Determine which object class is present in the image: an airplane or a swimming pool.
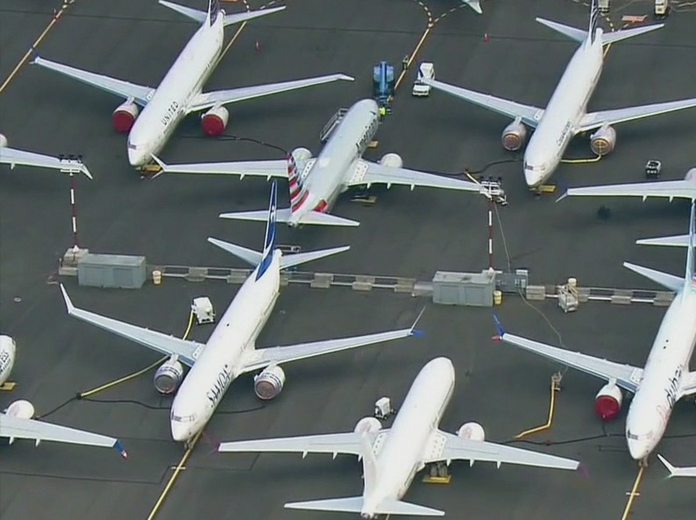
airplane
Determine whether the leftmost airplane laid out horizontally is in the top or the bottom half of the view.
top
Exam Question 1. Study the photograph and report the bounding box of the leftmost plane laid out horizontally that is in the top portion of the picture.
[0,141,94,186]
